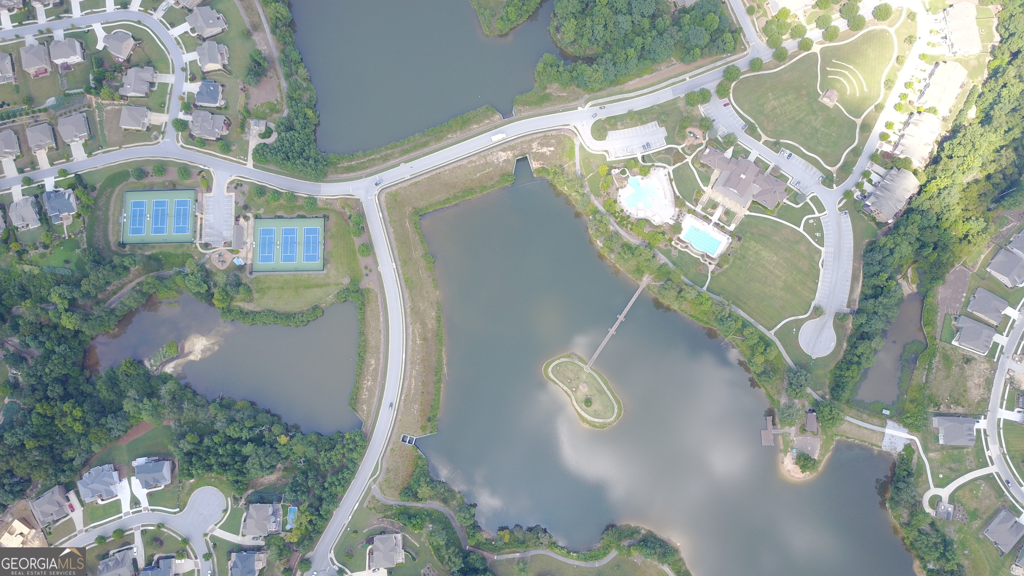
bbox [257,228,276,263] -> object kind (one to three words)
tennis court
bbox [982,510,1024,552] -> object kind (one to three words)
house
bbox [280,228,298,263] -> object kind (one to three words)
tennis court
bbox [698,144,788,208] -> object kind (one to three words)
building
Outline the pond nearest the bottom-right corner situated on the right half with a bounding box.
[852,292,929,406]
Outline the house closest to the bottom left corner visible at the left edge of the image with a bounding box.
[0,519,31,555]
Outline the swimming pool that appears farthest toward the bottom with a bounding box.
[285,505,299,530]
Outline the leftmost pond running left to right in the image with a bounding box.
[83,289,364,436]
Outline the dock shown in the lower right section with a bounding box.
[760,416,795,445]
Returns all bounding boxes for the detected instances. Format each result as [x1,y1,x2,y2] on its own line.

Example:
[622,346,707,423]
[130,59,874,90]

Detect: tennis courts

[257,228,276,263]
[303,227,321,262]
[173,199,191,234]
[280,228,298,263]
[151,200,169,235]
[129,200,147,235]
